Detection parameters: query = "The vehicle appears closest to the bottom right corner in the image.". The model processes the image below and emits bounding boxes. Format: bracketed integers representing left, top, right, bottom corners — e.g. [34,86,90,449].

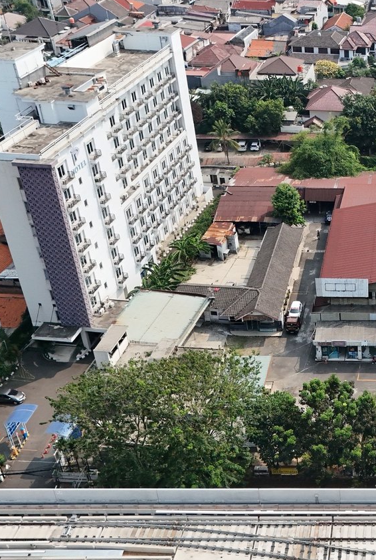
[287,313,302,333]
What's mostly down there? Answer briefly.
buildings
